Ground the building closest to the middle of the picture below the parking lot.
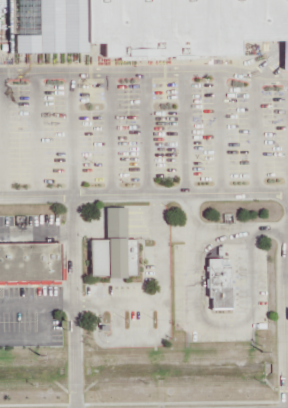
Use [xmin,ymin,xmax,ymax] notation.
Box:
[90,208,142,278]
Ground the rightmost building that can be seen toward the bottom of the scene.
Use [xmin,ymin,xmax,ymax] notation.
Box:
[206,244,234,310]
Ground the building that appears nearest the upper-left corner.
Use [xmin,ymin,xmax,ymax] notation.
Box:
[16,0,42,34]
